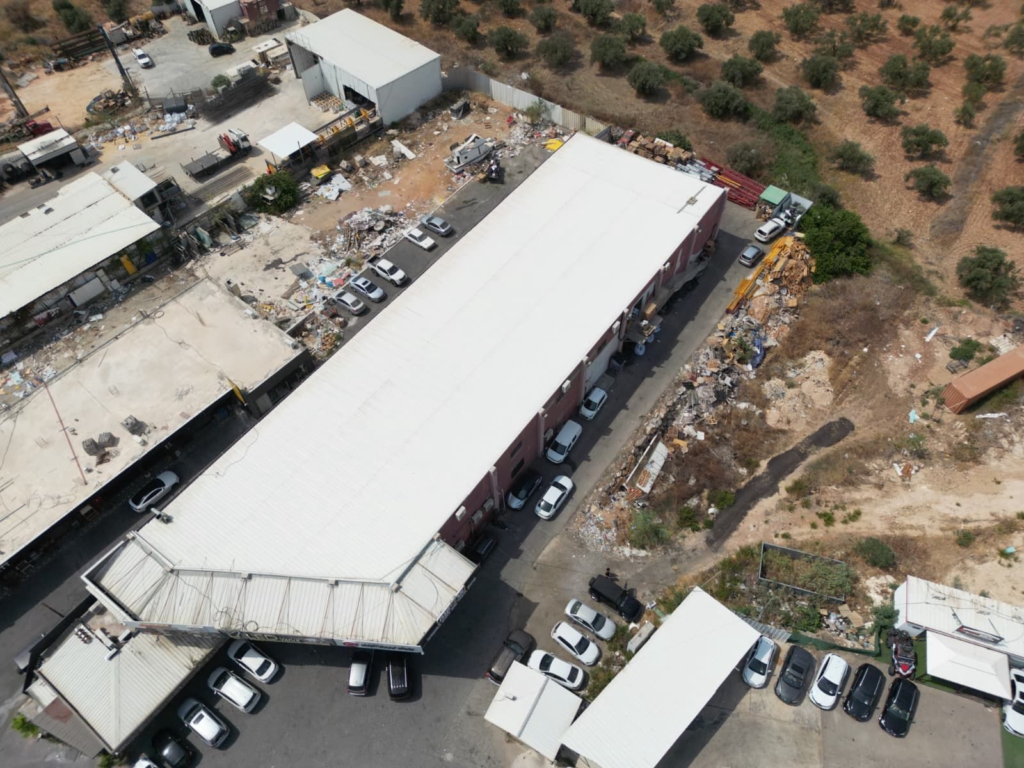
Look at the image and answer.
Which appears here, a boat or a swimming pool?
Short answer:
boat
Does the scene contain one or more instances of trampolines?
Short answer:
No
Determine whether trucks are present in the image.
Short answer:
Yes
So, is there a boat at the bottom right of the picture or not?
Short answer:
No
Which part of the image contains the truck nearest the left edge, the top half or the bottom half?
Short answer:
top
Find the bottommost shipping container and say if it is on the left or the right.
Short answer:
right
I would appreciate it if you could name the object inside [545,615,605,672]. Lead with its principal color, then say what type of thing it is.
white car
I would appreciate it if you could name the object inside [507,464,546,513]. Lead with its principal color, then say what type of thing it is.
black car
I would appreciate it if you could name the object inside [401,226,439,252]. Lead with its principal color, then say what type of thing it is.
white car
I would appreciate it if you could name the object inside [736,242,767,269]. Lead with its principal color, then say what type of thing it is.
gray car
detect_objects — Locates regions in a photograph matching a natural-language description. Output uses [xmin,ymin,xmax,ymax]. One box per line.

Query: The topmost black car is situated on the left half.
[206,41,238,58]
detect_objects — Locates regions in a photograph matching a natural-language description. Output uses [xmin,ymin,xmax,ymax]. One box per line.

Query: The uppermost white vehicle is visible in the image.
[126,45,152,68]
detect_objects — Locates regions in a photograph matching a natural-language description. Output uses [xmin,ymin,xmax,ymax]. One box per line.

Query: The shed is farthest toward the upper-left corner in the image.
[17,129,92,188]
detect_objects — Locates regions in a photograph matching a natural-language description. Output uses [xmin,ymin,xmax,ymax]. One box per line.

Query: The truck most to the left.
[0,99,49,154]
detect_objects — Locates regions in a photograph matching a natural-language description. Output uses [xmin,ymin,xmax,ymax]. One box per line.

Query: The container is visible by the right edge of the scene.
[934,339,1024,412]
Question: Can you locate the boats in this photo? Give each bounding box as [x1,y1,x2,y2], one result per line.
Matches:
[441,127,495,173]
